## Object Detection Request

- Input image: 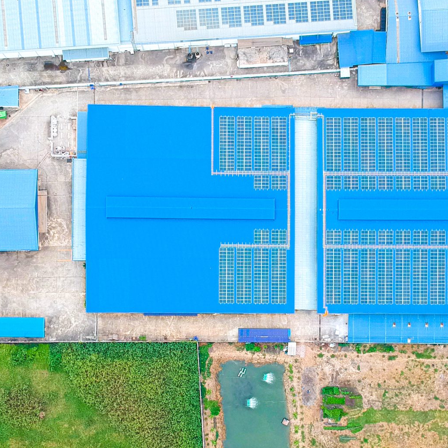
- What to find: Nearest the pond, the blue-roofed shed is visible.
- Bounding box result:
[239,328,291,342]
